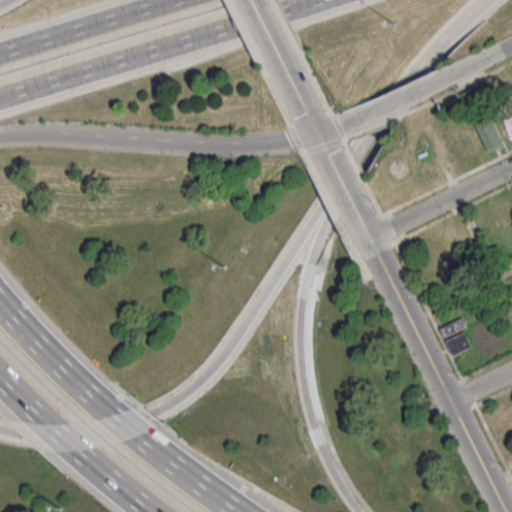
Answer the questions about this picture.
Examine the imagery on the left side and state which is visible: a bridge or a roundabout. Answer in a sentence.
The feature located on the left side is a bridge.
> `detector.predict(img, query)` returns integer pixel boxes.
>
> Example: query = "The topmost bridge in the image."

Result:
[223,0,290,46]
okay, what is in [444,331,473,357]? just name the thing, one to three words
house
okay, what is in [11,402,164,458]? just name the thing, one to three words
bridge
